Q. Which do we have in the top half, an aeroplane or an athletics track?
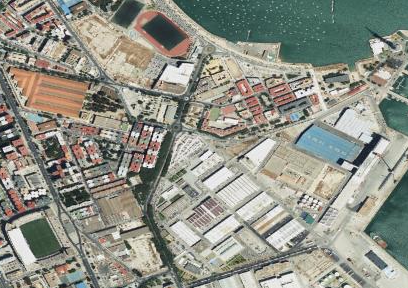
athletics track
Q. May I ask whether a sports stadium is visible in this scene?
Yes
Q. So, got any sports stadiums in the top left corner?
No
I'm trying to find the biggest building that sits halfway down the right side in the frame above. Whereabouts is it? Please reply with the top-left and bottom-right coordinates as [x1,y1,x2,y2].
[295,125,365,164]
